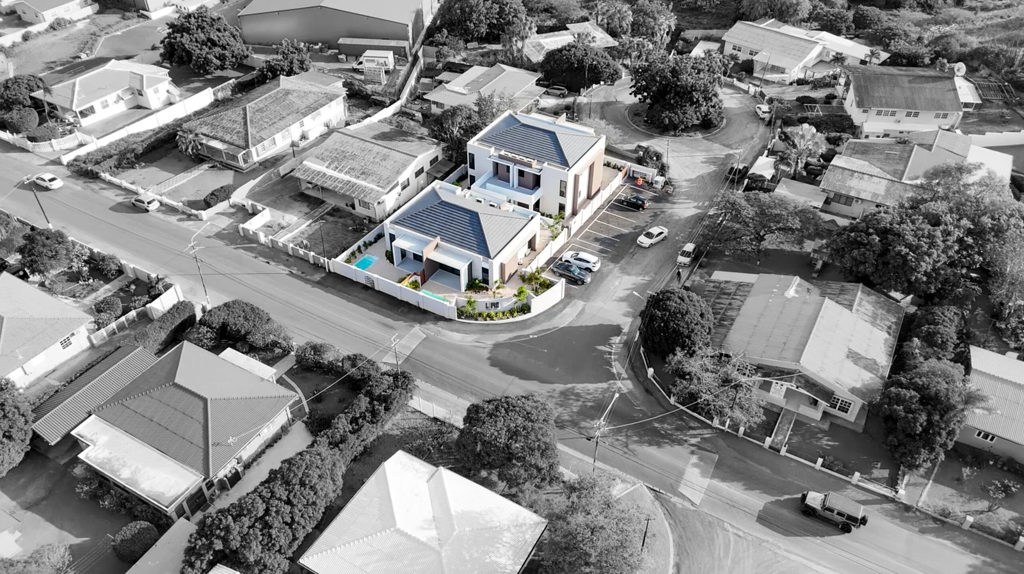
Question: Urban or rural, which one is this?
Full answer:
The area shown here is urban.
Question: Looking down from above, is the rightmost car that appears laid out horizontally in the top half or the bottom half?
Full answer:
The rightmost car that appears laid out horizontally is in the bottom half of the image.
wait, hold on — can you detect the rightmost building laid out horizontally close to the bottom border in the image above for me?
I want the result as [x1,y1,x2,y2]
[297,451,549,574]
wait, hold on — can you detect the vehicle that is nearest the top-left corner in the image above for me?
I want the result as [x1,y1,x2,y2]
[30,171,63,189]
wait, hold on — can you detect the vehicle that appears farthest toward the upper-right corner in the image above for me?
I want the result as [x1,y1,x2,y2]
[753,103,772,118]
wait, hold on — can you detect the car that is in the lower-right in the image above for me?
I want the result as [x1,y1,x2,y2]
[800,490,869,530]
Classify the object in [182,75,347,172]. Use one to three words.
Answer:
house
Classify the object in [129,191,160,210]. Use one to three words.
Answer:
car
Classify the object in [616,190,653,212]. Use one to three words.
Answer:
car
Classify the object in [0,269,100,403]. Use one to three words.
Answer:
house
